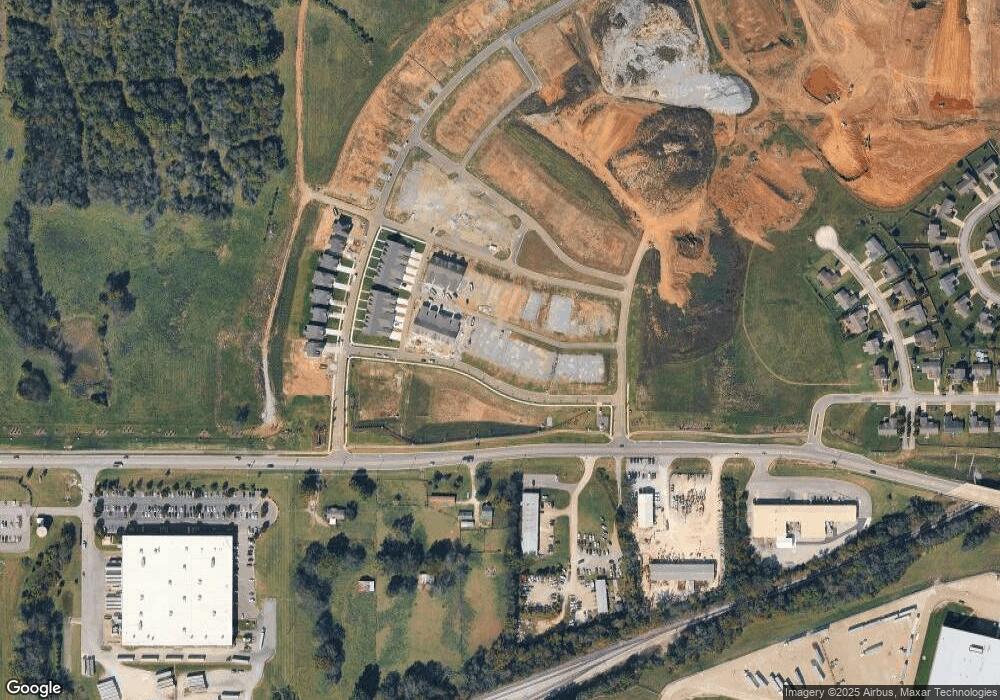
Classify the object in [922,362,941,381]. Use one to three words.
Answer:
house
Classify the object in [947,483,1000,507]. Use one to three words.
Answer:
overpass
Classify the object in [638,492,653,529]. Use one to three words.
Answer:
building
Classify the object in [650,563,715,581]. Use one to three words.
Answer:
shed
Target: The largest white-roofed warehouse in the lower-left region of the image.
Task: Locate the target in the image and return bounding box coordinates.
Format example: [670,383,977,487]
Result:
[121,535,232,645]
